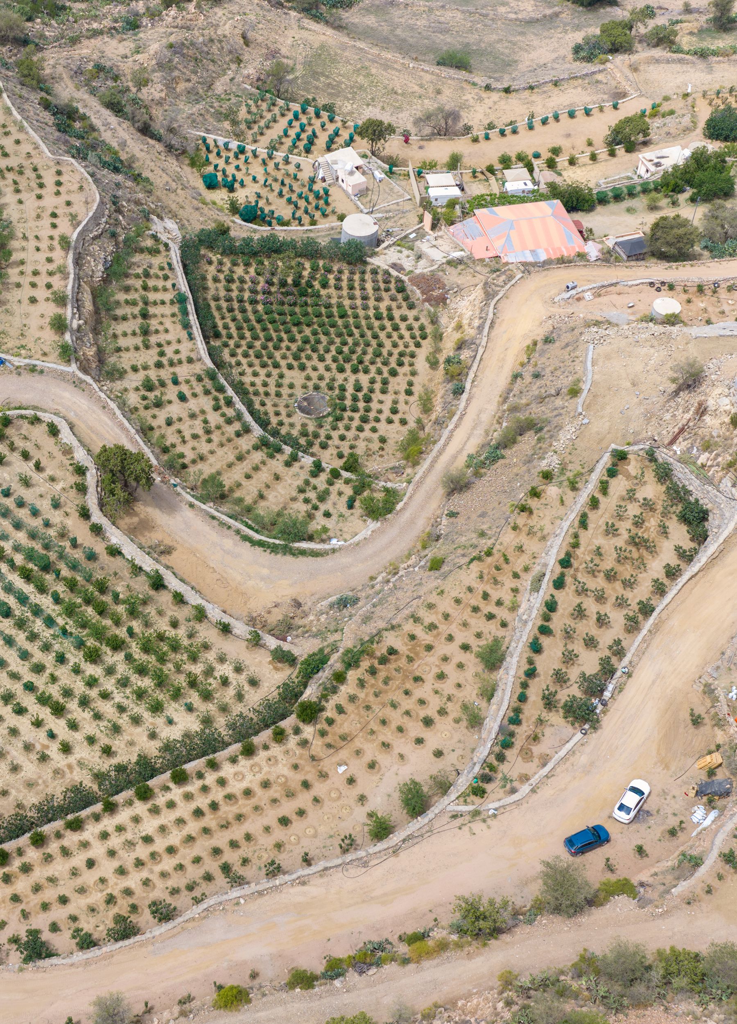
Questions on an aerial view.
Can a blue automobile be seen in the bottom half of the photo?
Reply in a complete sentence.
Yes, the scene does show a blue automobile in the bottom half of the photo.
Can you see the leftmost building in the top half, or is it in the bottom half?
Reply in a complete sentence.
Seen from above, the leftmost building lies in the top half of the view.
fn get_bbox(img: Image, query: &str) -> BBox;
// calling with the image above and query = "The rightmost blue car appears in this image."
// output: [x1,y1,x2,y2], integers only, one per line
[564,824,611,855]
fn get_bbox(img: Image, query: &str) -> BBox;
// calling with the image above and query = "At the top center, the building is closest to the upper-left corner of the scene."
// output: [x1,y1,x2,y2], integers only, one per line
[318,146,367,196]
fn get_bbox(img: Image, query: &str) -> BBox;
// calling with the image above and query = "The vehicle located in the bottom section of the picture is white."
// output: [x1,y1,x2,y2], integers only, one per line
[615,779,651,824]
